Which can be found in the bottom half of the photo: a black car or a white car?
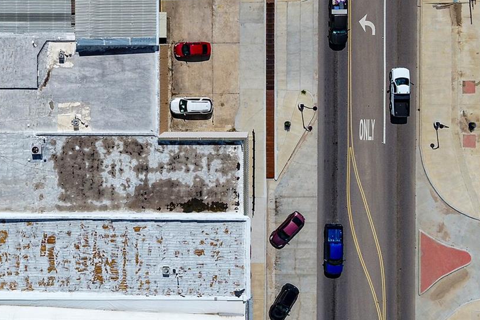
black car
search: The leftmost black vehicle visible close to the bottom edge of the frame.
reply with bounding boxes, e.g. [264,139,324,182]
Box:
[268,280,300,320]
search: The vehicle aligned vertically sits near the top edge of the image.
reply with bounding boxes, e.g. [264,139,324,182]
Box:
[328,0,350,49]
